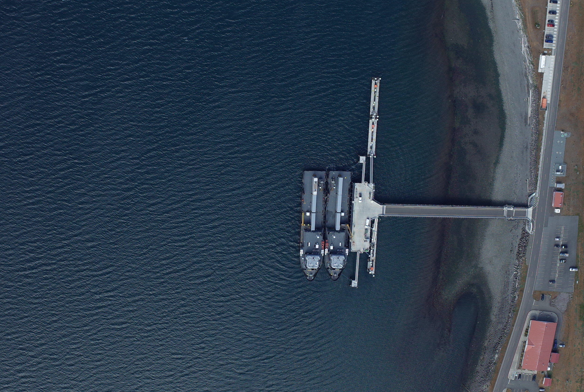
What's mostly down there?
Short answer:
water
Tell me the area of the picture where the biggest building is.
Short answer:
bottom right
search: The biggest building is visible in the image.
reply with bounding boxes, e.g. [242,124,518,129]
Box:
[521,320,557,371]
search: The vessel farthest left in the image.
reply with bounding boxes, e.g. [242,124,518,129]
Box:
[300,171,326,280]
